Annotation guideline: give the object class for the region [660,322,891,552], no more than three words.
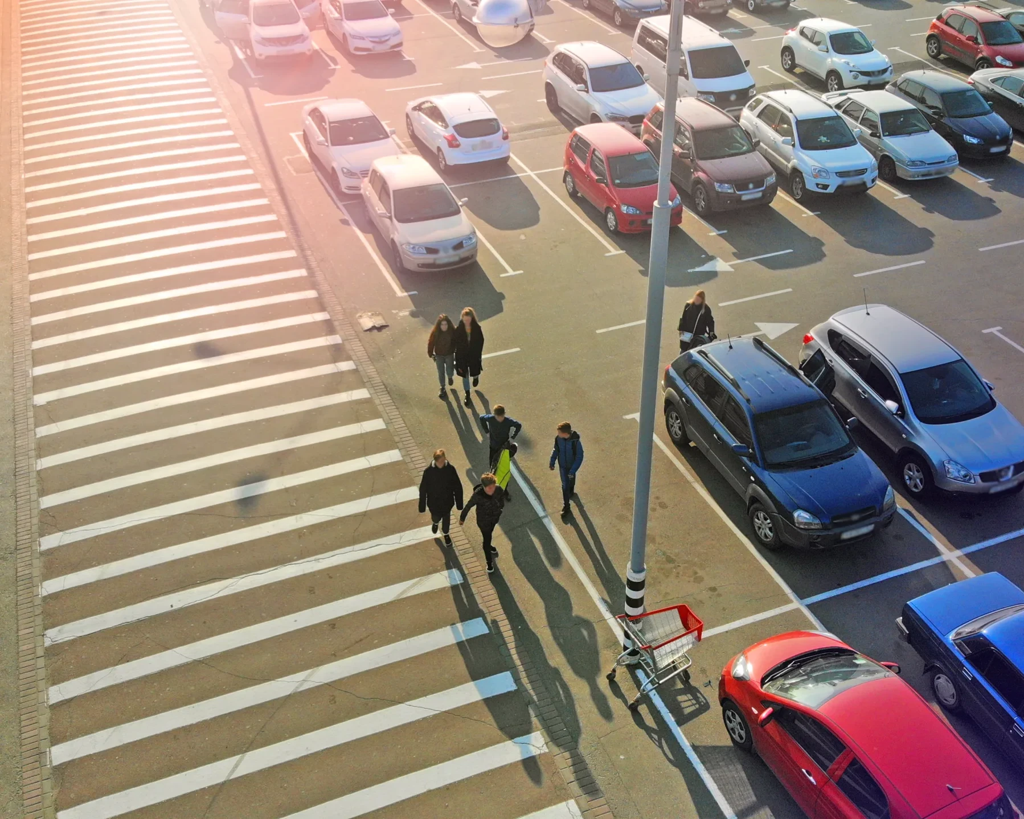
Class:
car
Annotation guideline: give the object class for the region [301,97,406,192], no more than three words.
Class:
car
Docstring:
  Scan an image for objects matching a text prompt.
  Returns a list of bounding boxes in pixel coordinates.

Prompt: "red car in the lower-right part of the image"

[721,630,1014,819]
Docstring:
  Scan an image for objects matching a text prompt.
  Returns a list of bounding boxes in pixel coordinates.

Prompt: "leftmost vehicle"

[215,0,337,64]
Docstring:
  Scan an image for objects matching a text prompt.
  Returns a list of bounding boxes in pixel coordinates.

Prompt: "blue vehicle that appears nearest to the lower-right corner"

[892,570,1024,770]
